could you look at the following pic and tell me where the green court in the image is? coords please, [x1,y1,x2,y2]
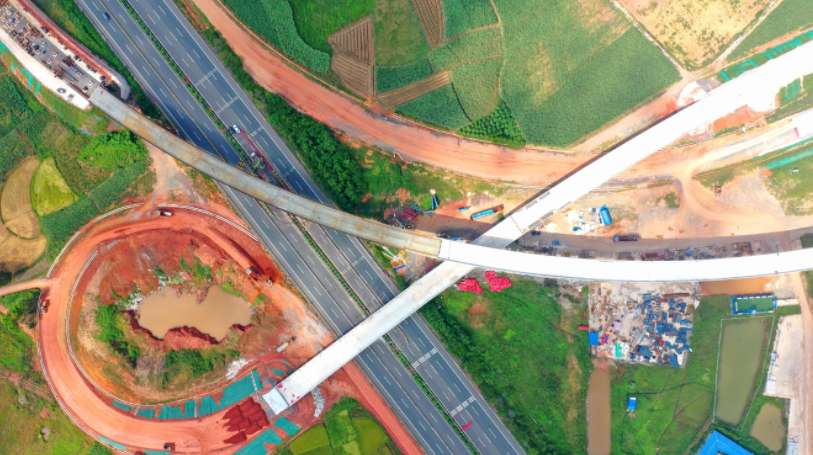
[731,293,777,316]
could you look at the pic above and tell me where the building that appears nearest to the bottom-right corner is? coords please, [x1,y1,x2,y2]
[690,426,759,455]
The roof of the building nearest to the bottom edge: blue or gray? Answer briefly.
blue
